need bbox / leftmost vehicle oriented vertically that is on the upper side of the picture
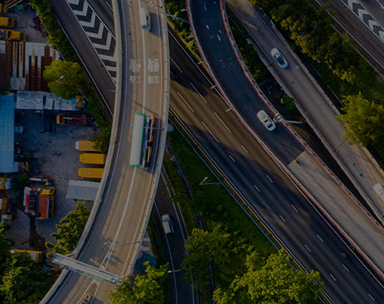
[42,108,55,134]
